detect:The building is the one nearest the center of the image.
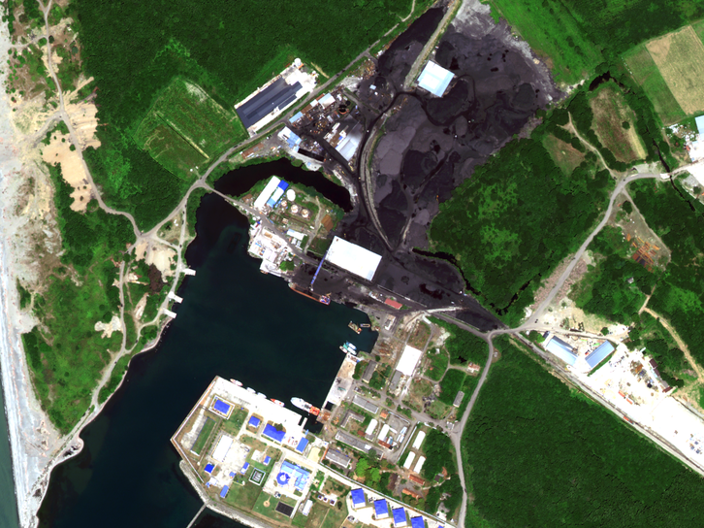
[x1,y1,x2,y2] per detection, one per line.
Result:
[325,237,382,283]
